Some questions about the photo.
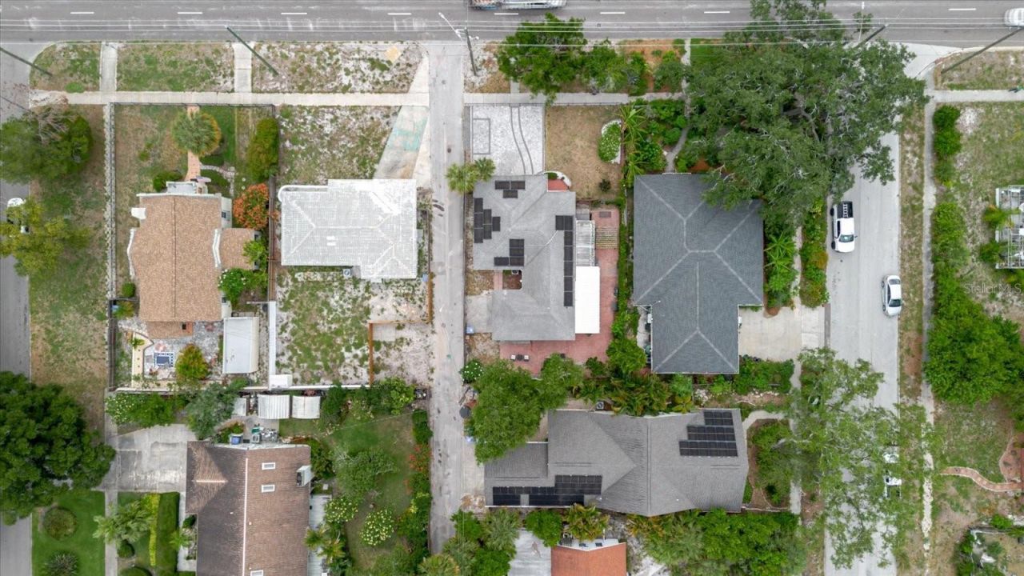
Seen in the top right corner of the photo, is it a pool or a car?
car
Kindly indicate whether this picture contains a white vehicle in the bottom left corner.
No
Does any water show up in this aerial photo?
No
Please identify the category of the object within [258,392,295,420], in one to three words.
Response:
shed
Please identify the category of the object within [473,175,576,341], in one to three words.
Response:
house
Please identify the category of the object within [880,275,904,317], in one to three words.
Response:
car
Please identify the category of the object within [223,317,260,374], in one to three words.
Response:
shed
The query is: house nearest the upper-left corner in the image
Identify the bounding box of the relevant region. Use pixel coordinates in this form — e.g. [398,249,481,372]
[125,183,262,338]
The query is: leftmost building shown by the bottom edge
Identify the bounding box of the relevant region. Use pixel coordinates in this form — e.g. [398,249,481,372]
[180,439,324,576]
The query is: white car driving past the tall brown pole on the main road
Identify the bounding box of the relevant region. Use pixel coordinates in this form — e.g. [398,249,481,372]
[1002,3,1024,27]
